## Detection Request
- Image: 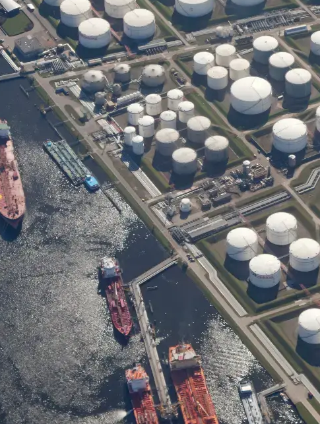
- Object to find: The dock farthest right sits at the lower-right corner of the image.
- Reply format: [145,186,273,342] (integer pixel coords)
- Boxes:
[257,381,288,424]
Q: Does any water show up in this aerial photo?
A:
Yes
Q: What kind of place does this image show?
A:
industrial area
